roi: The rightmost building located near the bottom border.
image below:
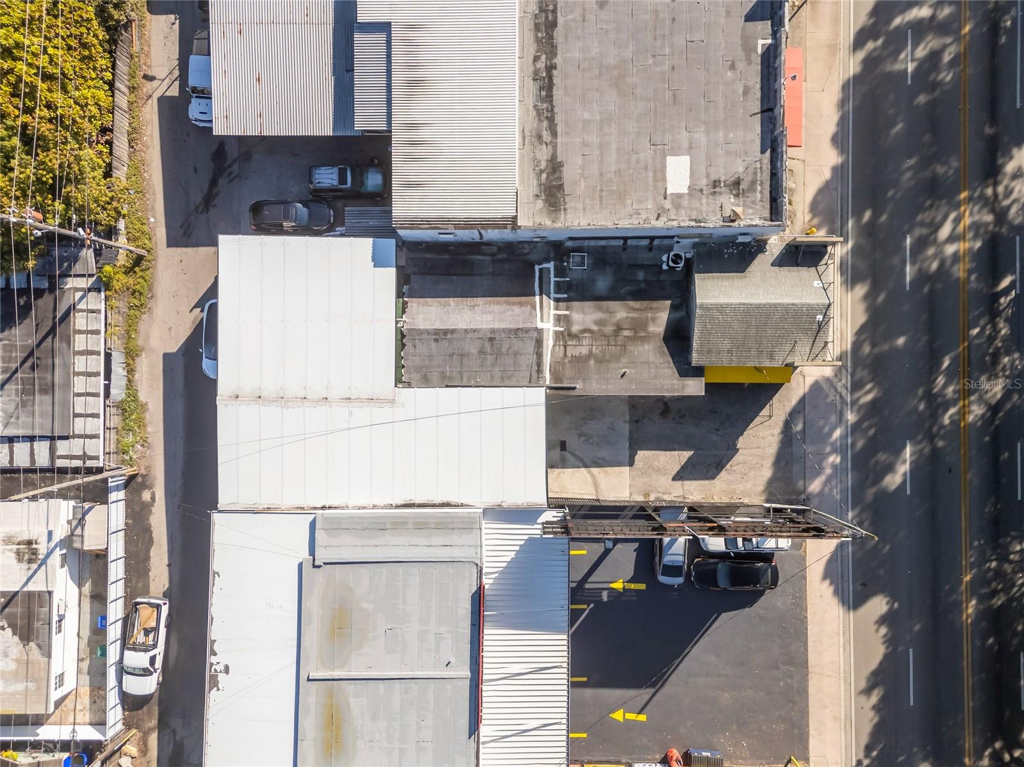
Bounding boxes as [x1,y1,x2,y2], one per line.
[202,507,485,767]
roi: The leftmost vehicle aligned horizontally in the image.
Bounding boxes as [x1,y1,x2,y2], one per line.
[252,198,336,235]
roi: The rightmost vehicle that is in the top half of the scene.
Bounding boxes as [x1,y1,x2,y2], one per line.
[310,164,391,203]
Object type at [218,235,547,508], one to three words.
building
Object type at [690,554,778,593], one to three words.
car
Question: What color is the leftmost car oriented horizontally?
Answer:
black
